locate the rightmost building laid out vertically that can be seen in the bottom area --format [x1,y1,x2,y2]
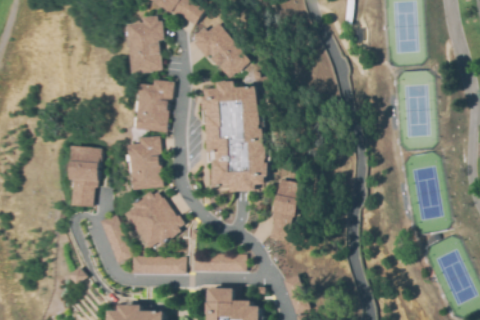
[271,180,298,239]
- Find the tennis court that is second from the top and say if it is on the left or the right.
right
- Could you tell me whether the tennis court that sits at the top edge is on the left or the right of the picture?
right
